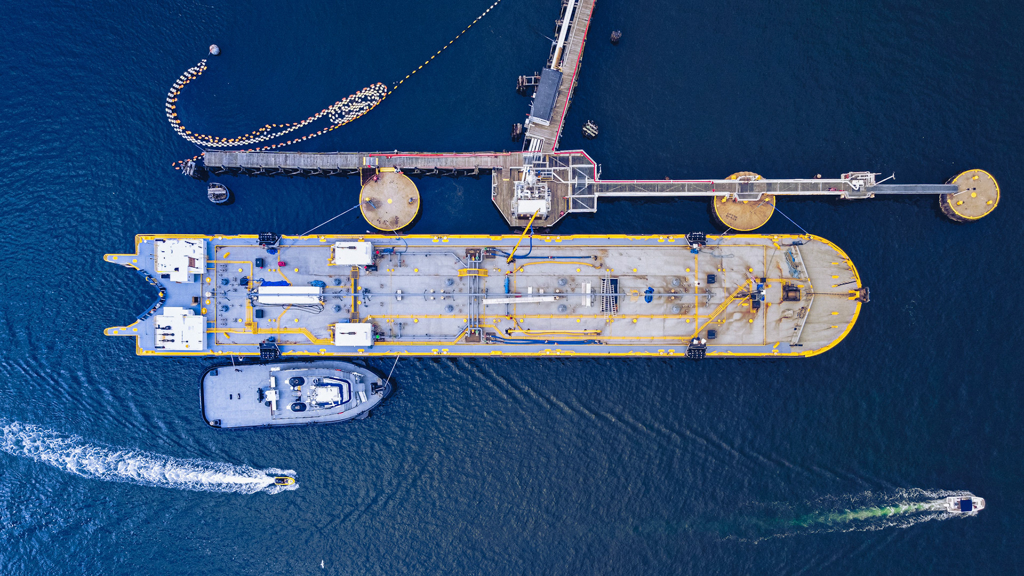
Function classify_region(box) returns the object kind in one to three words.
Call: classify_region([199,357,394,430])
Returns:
boat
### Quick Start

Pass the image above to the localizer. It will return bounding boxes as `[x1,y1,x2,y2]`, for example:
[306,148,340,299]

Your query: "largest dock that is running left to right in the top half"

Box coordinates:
[203,149,525,178]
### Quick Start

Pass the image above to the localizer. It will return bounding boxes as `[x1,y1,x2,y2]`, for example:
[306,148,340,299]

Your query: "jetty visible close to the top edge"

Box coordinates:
[522,0,596,155]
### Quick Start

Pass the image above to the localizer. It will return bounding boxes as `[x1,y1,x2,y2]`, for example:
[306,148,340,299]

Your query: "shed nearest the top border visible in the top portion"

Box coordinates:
[524,68,562,126]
